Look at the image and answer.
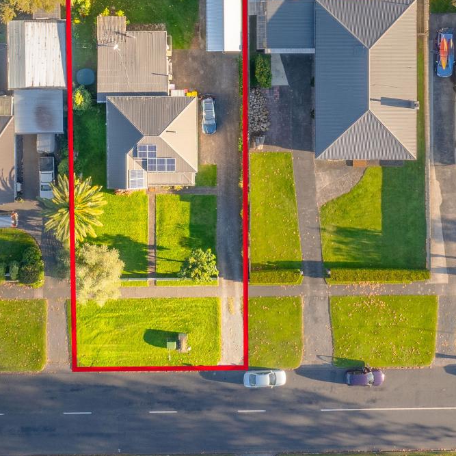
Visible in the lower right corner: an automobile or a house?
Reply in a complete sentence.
The feature located in the lower right corner is an automobile.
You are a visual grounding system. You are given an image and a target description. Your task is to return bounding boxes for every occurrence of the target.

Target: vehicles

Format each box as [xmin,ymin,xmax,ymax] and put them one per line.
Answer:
[243,368,286,389]
[346,362,383,388]
[199,93,218,137]
[37,158,56,201]
[435,31,455,77]
[0,211,19,229]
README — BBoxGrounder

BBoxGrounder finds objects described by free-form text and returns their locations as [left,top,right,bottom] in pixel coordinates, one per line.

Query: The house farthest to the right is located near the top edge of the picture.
[314,0,421,169]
